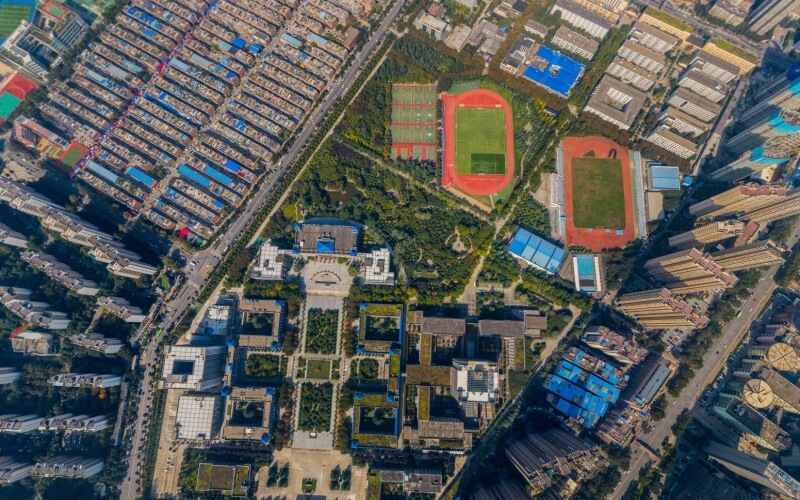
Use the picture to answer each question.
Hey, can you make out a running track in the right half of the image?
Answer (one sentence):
Yes, there is a running track in the right half of the image.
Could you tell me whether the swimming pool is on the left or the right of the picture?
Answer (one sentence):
The swimming pool is on the right side of the image.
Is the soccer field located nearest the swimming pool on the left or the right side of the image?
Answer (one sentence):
The soccer field located nearest the swimming pool appears in the right half of the scene.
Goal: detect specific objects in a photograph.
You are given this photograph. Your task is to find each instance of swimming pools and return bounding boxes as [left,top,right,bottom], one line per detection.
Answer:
[573,256,604,292]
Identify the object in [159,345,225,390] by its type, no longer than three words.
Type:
building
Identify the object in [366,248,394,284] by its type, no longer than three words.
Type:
building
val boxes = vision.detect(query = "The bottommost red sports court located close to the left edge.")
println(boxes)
[0,73,37,98]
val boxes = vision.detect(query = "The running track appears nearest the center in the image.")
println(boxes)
[442,89,514,195]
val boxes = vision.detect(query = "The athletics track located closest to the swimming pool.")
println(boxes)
[563,135,634,252]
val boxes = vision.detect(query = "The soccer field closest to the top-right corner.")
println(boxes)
[572,157,626,229]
